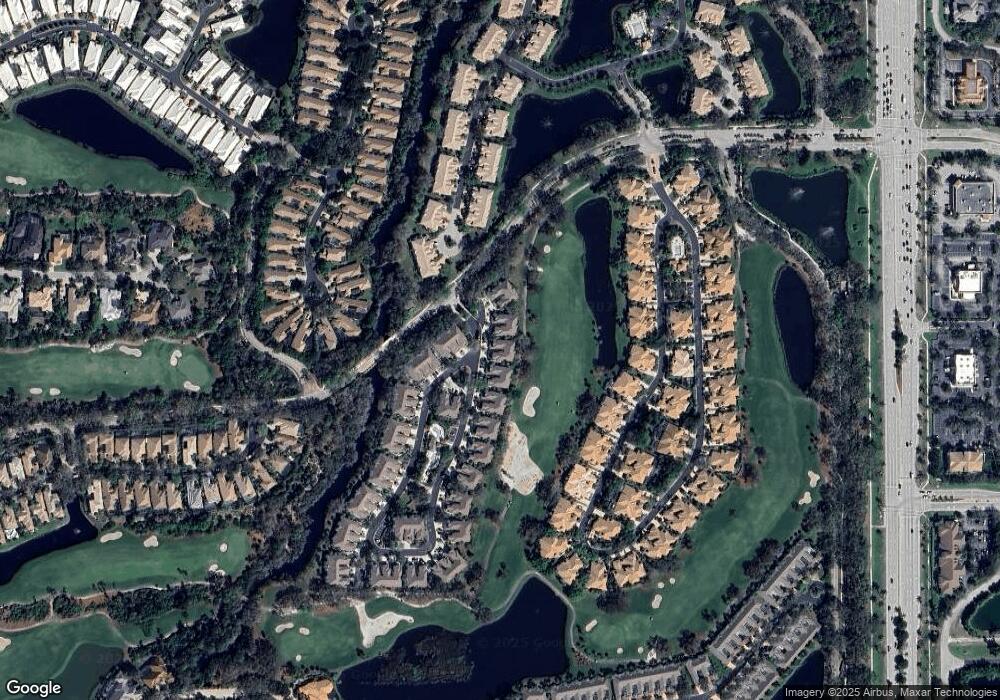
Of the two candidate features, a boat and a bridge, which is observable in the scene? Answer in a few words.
bridge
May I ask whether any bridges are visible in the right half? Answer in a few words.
No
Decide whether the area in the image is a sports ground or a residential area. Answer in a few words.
residential area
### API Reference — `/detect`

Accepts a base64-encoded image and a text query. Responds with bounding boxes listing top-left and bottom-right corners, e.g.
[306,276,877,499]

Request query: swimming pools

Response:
[626,18,648,40]
[431,426,443,440]
[430,451,438,464]
[672,235,685,258]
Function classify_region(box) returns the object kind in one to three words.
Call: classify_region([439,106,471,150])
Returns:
building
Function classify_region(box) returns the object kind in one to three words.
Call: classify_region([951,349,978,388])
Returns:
building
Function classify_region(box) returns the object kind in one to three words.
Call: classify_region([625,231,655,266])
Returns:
house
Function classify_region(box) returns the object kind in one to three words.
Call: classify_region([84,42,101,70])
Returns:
house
